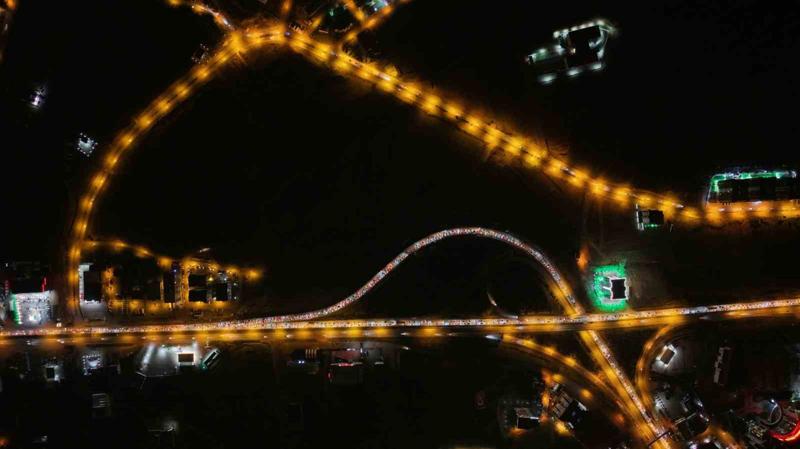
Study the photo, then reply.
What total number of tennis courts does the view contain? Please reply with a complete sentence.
The count of tennis courts is 0.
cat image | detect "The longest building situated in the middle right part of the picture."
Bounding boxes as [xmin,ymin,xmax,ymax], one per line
[714,177,798,202]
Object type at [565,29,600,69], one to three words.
building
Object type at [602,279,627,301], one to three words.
building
